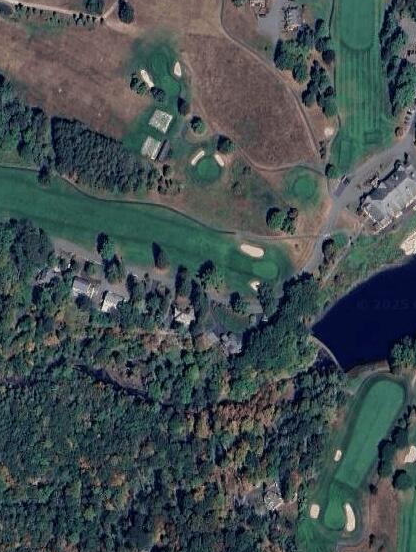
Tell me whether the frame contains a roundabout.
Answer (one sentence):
No, I can see no roundabout in this picture.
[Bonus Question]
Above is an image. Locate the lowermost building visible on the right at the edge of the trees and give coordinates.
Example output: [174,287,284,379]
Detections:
[260,482,287,511]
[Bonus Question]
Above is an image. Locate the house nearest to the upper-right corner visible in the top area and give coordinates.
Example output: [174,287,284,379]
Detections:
[286,9,303,31]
